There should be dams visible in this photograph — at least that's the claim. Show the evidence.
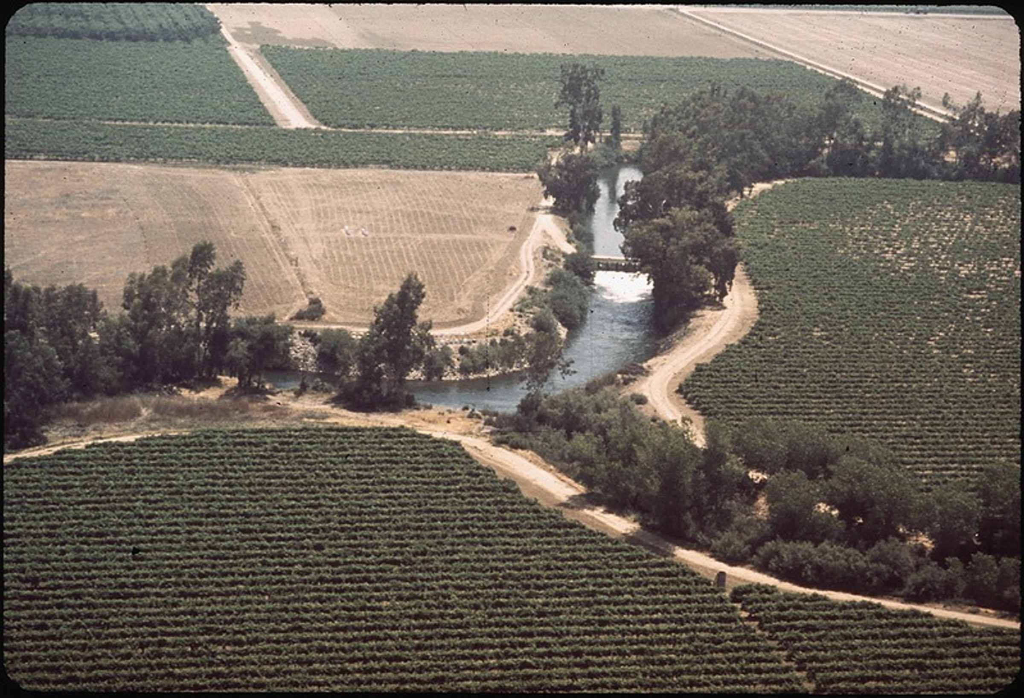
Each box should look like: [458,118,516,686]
[581,255,654,272]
